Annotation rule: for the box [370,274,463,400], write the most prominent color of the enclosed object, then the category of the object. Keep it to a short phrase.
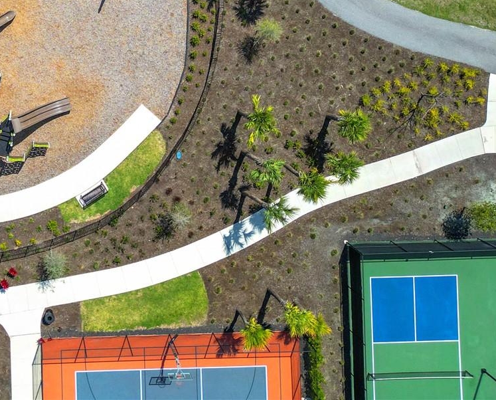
blue sports court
